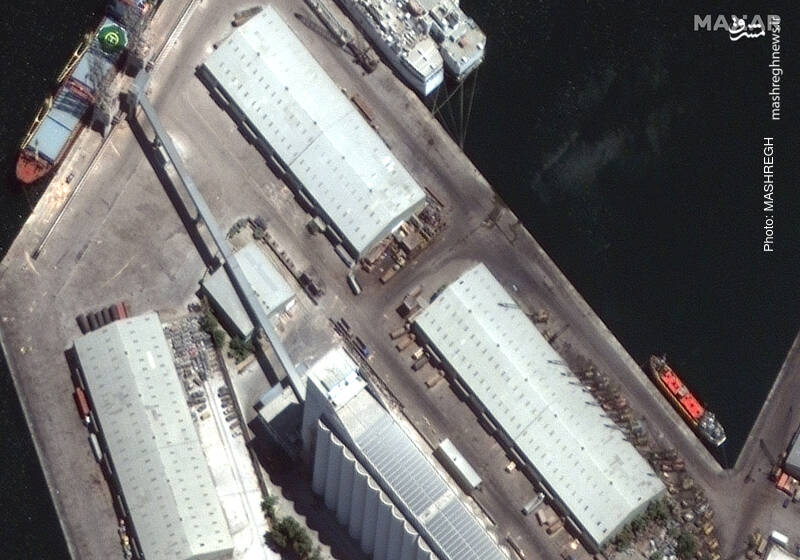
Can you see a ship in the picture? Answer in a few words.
Yes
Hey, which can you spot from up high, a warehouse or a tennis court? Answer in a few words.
warehouse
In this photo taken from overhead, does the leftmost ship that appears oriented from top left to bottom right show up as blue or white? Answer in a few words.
white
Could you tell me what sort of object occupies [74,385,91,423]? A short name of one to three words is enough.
vehicle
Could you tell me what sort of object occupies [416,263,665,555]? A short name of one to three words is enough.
warehouse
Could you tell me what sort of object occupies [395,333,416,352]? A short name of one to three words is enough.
vehicle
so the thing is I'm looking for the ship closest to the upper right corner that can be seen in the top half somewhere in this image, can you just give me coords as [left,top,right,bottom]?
[420,0,487,77]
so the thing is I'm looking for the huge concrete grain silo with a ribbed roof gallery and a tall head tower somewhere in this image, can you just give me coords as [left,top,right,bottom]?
[307,345,509,560]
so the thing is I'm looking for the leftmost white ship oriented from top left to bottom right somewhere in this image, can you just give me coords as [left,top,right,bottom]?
[340,0,443,95]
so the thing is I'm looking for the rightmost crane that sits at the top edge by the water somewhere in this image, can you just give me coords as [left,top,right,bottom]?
[306,0,384,73]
